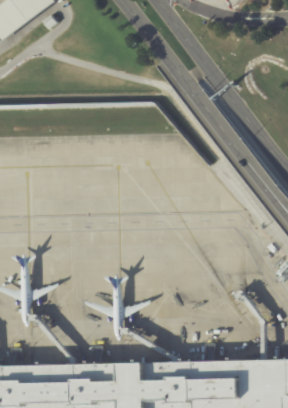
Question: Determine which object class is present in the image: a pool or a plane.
plane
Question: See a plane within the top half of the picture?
No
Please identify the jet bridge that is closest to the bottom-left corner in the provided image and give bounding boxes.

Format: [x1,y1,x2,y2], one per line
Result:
[25,312,80,364]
